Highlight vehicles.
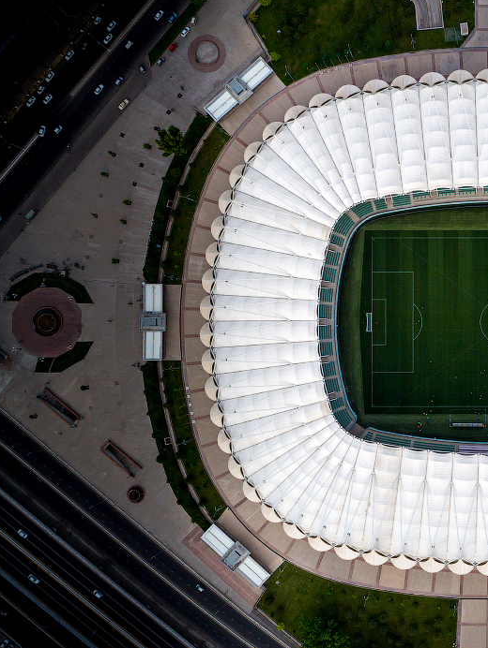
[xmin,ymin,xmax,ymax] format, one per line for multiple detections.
[106,19,116,30]
[167,11,178,21]
[92,13,102,24]
[52,123,63,134]
[167,40,177,51]
[16,530,27,539]
[92,590,103,600]
[37,125,46,136]
[27,575,38,585]
[93,84,103,94]
[21,208,34,220]
[44,71,54,81]
[42,93,52,104]
[153,8,163,19]
[0,609,7,619]
[35,84,45,94]
[179,25,190,36]
[195,584,206,594]
[155,54,165,66]
[25,95,35,106]
[113,74,124,85]
[118,98,128,109]
[65,48,75,59]
[123,37,134,49]
[0,640,8,648]
[103,32,113,42]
